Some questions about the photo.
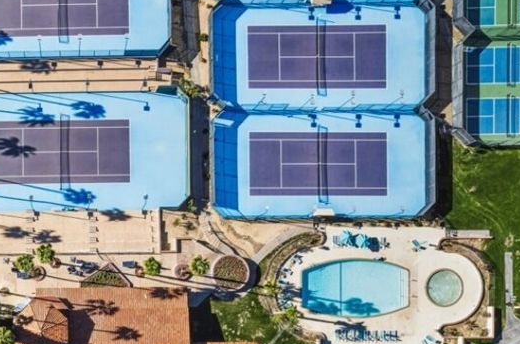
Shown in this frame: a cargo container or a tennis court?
tennis court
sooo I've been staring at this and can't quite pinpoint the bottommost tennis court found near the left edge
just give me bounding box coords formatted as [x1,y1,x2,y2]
[0,91,189,208]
